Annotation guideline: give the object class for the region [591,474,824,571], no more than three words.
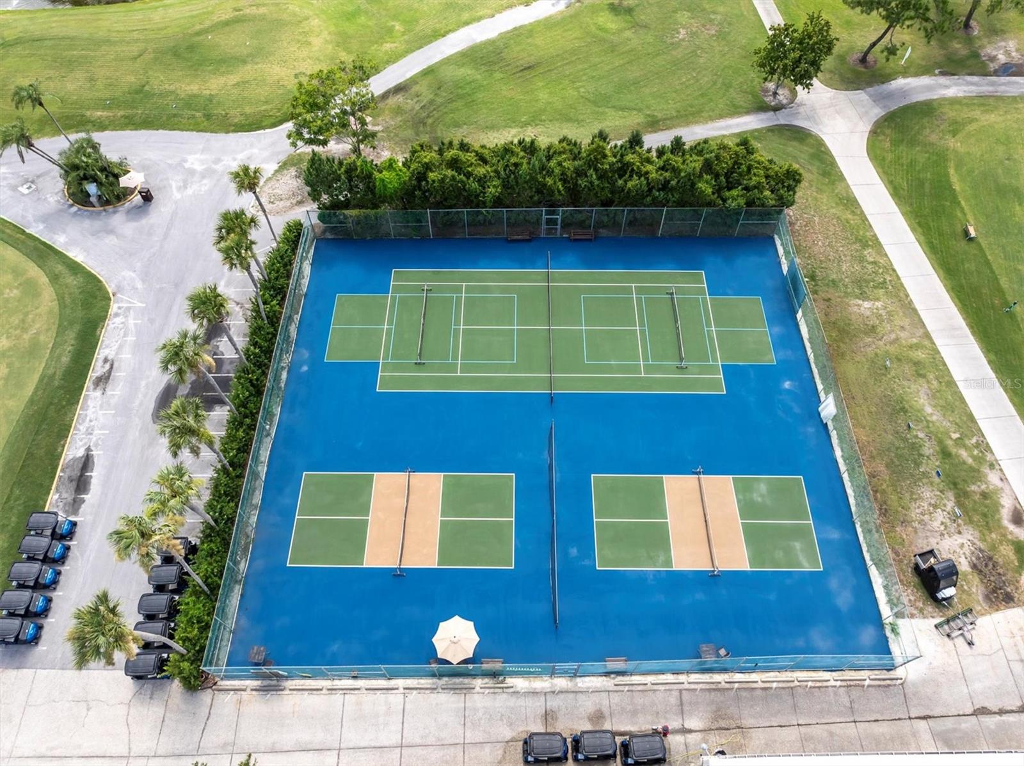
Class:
sports court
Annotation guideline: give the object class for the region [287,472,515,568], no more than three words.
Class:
sports court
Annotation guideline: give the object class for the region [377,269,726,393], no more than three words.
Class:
tennis court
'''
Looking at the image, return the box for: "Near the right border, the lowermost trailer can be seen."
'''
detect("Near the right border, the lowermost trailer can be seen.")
[936,606,979,653]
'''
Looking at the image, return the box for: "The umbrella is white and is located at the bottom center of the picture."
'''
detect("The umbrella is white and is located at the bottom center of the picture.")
[431,615,481,667]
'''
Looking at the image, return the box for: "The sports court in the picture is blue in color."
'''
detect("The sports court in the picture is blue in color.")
[224,237,891,678]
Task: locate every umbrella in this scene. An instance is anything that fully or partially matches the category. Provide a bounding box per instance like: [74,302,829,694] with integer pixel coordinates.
[120,172,146,189]
[431,615,481,667]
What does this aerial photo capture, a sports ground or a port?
sports ground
